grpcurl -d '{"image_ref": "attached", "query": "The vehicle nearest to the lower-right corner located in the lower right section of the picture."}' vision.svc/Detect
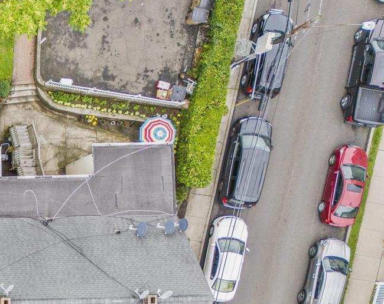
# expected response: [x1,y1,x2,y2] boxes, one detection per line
[299,237,354,304]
